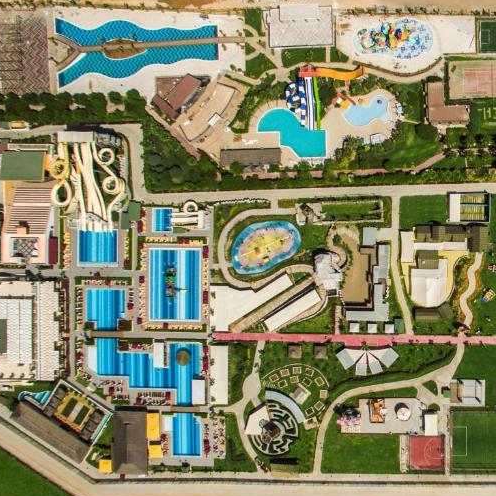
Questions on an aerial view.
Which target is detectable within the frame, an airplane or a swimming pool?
swimming pool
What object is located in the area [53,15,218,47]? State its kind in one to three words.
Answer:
swimming pool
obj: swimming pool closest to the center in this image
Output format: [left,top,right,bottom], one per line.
[231,220,302,275]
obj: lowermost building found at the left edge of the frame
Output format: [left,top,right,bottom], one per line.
[10,400,93,464]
